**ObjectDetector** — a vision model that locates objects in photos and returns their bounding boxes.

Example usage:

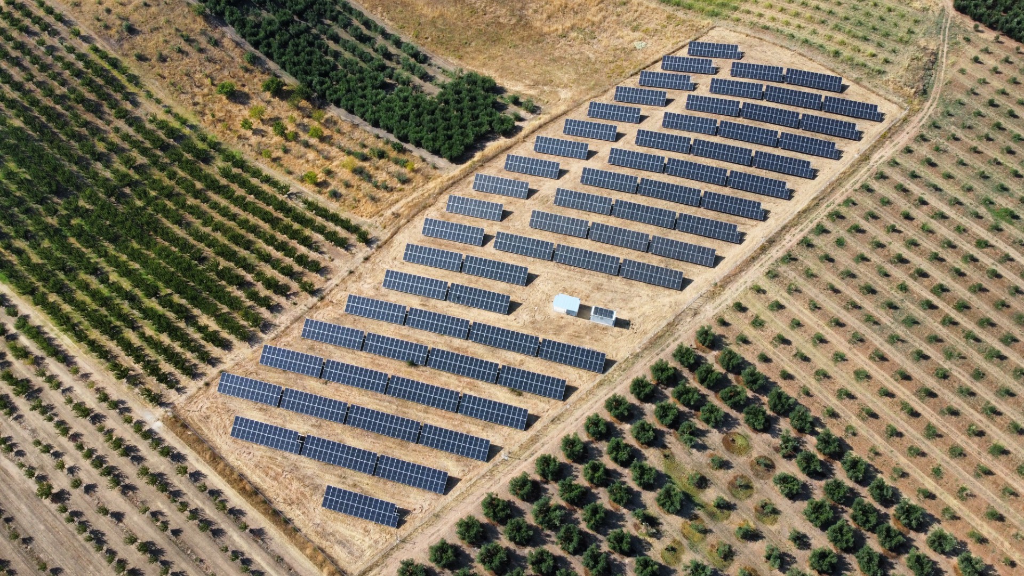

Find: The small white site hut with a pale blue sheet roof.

[552,293,581,317]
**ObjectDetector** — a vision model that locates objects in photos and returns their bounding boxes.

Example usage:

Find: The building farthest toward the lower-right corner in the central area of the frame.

[589,305,619,327]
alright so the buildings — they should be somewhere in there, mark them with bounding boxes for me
[589,305,619,327]
[552,293,581,317]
